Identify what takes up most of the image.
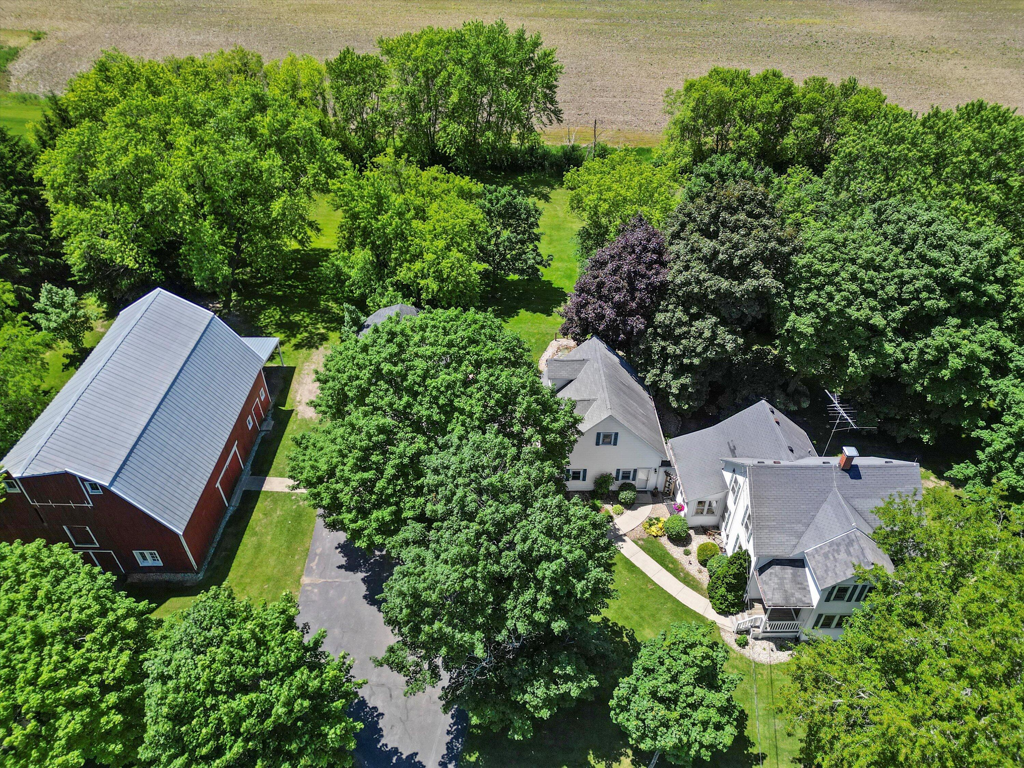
trees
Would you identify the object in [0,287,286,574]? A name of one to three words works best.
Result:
barn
